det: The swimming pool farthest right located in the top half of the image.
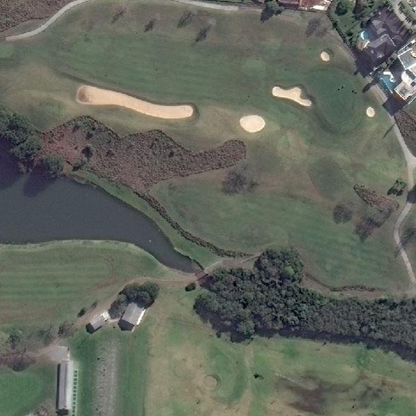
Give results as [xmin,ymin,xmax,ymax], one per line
[377,74,398,92]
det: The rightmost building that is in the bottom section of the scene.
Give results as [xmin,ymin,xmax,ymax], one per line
[122,303,146,325]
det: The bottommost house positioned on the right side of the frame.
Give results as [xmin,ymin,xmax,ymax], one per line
[394,47,416,100]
